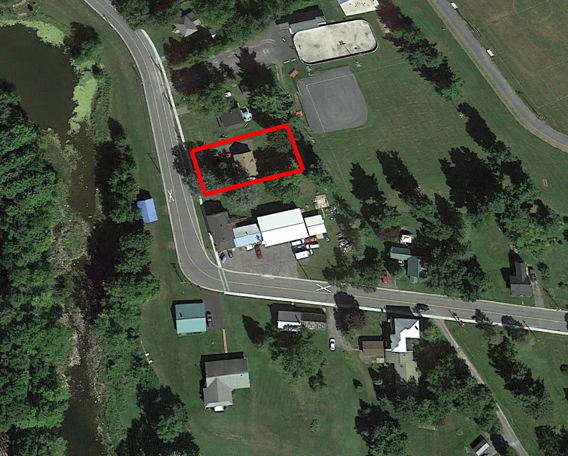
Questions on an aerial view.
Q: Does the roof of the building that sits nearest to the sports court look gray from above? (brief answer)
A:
Yes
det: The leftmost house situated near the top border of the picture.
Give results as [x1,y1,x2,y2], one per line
[175,11,197,37]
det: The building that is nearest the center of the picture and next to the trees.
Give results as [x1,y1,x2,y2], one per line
[258,208,308,247]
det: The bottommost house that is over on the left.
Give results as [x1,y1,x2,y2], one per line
[204,356,250,411]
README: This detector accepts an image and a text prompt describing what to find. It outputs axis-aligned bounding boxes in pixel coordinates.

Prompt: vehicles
[254,245,263,259]
[296,251,313,259]
[207,314,212,325]
[293,244,305,251]
[228,249,233,260]
[323,233,331,243]
[292,239,304,246]
[330,338,335,350]
[416,305,429,310]
[244,243,255,250]
[529,268,536,282]
[383,271,388,283]
[218,252,227,264]
[305,243,320,249]
[303,237,318,243]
